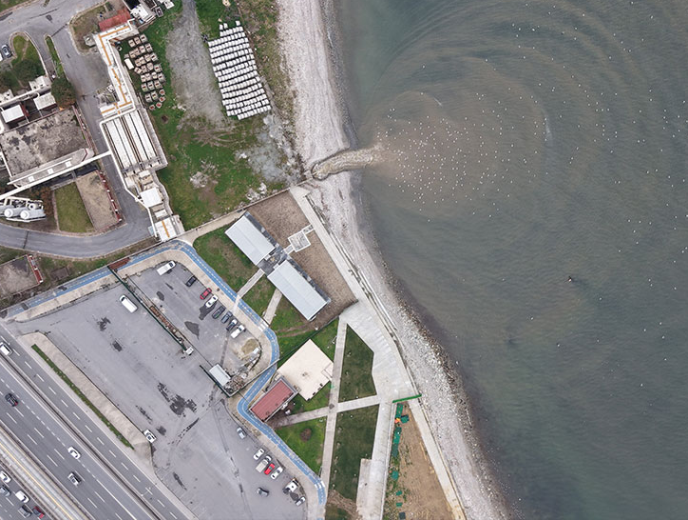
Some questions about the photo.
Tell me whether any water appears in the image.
Yes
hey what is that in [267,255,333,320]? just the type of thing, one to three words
building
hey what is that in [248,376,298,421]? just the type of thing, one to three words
building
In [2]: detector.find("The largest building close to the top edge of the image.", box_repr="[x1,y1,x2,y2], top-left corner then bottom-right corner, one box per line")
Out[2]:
[93,19,146,119]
